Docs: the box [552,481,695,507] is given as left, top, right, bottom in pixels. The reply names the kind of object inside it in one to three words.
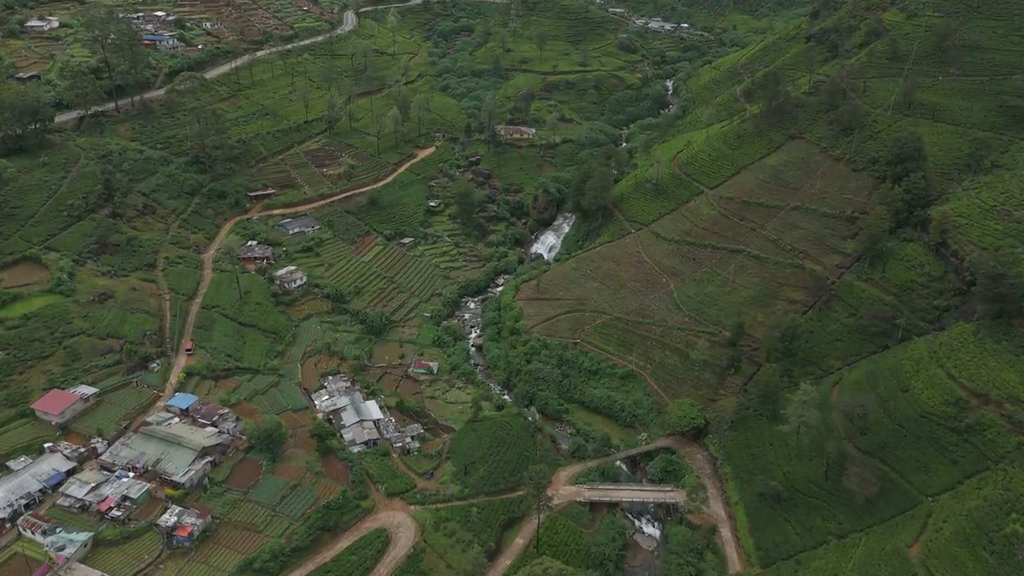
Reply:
bridge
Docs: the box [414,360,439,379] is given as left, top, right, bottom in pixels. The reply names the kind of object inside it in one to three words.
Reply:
shed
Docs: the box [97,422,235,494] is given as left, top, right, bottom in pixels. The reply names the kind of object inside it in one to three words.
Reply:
building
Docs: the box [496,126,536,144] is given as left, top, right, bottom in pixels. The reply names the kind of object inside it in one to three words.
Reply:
house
